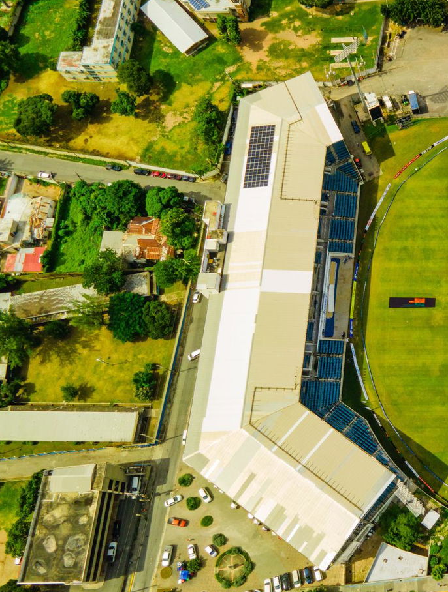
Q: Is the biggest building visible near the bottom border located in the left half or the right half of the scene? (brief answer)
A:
left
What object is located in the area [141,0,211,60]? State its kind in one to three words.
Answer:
shed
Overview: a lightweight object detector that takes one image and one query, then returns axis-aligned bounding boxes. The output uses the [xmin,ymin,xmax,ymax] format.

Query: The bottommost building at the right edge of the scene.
[365,542,429,582]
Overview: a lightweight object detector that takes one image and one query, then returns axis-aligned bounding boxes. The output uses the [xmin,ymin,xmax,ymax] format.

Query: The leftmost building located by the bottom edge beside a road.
[17,463,140,586]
